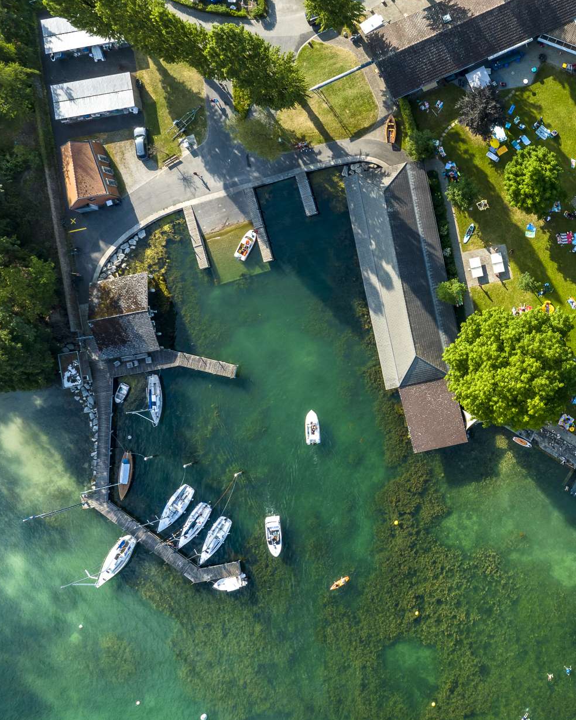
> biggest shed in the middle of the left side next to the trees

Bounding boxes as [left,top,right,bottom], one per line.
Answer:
[88,273,170,358]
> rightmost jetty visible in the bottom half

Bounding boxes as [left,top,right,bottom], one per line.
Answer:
[193,553,253,587]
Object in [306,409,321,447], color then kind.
white boat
